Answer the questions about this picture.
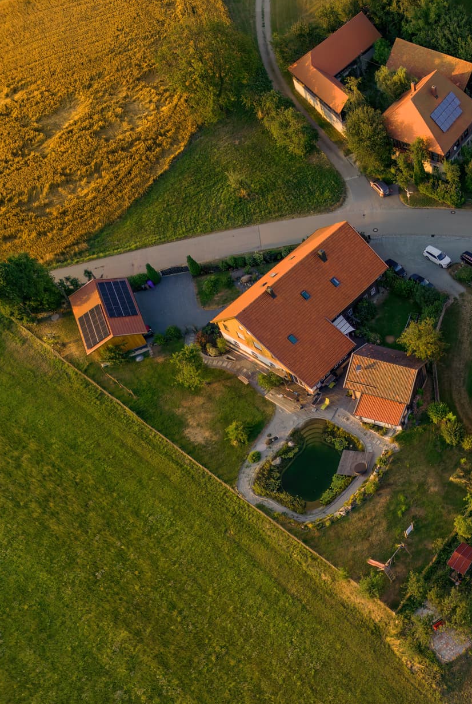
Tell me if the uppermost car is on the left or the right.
right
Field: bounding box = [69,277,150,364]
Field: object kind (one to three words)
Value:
shed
